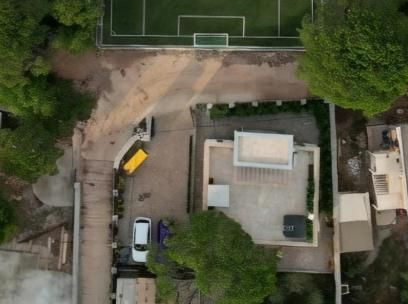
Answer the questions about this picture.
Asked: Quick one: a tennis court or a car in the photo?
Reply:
car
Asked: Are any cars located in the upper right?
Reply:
No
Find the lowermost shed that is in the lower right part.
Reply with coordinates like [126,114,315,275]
[341,189,375,254]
